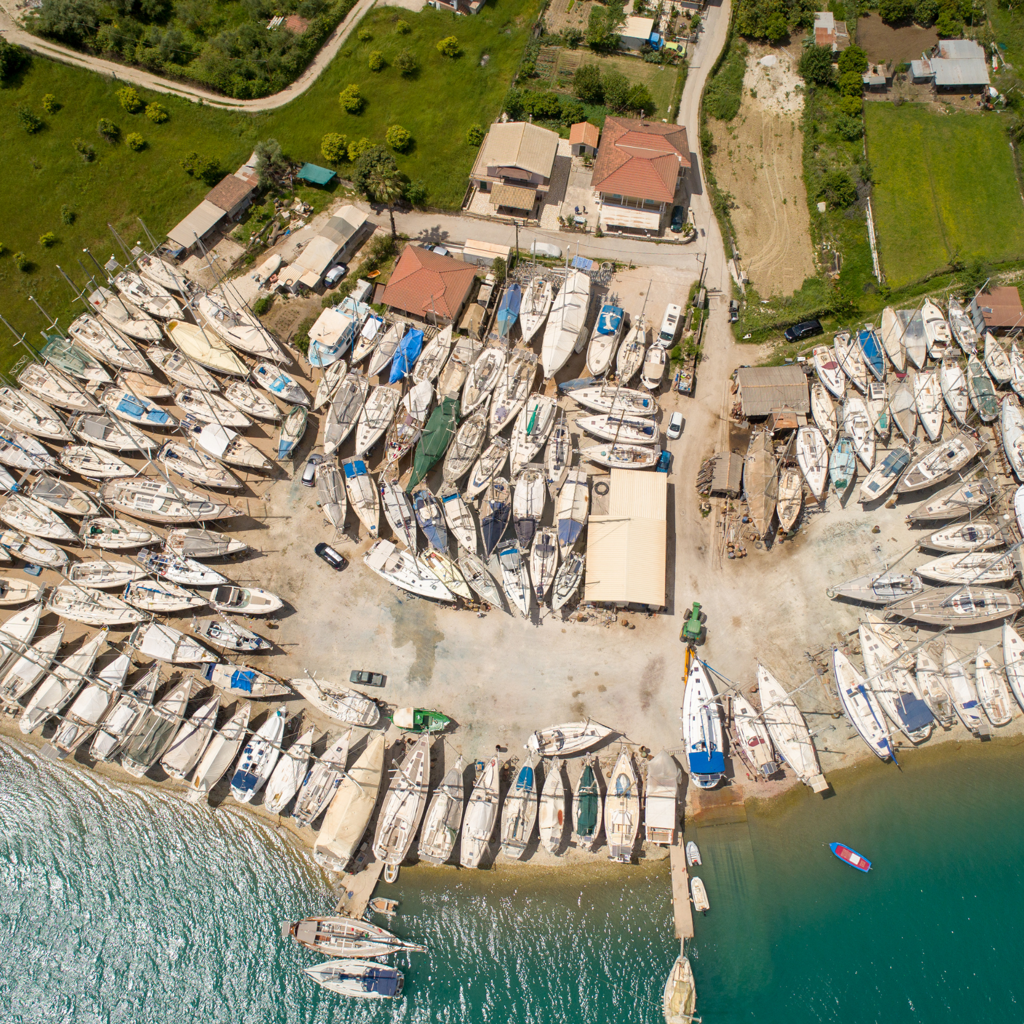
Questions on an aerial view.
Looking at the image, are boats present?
Yes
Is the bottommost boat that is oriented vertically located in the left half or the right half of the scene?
right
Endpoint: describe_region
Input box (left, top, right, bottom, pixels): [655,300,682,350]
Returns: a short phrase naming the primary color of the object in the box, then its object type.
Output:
white vehicle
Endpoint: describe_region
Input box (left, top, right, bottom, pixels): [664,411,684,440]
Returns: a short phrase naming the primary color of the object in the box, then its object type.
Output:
white car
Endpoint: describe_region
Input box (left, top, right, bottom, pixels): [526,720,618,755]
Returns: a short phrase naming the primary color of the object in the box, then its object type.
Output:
white boat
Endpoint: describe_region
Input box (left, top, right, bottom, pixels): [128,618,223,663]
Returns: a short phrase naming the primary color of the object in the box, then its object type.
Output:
white boat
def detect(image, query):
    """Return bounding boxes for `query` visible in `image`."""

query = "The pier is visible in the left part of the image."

[335,858,384,920]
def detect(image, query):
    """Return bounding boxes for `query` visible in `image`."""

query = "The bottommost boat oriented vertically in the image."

[664,951,697,1024]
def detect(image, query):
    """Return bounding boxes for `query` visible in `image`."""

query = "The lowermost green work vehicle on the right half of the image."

[678,602,706,649]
